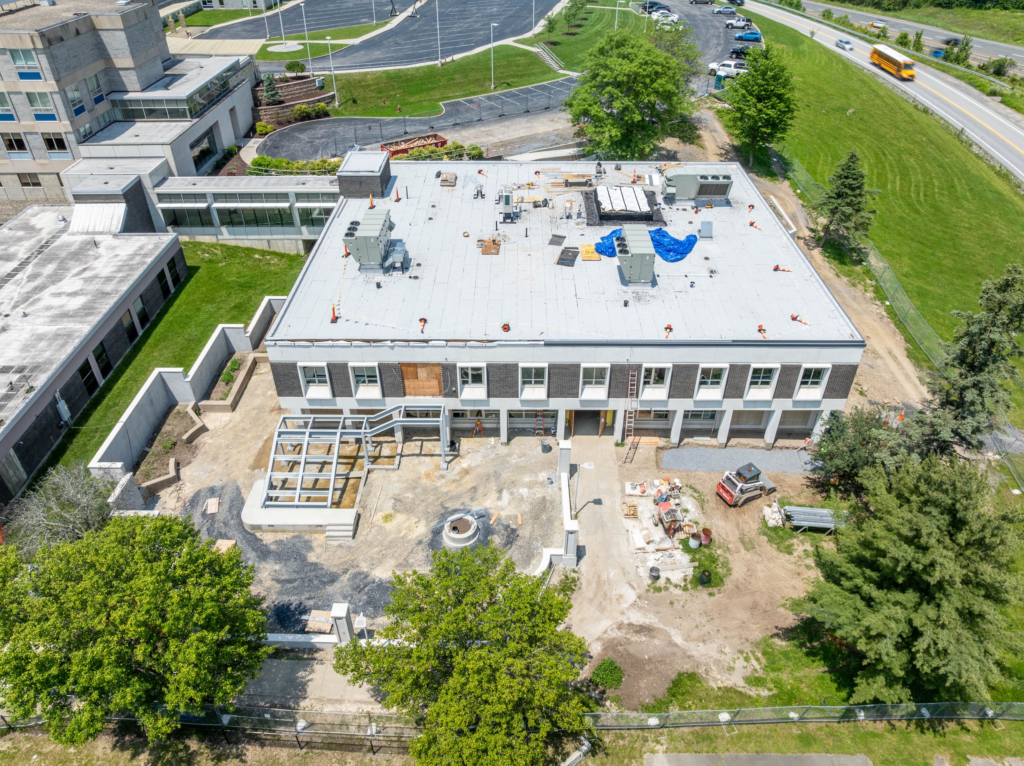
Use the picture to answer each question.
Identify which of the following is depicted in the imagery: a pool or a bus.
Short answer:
bus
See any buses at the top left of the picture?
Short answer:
No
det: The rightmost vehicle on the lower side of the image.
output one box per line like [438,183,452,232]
[715,458,782,508]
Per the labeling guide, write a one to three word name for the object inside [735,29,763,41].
vehicle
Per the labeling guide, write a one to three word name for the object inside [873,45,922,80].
bus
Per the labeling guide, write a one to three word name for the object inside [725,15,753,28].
vehicle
